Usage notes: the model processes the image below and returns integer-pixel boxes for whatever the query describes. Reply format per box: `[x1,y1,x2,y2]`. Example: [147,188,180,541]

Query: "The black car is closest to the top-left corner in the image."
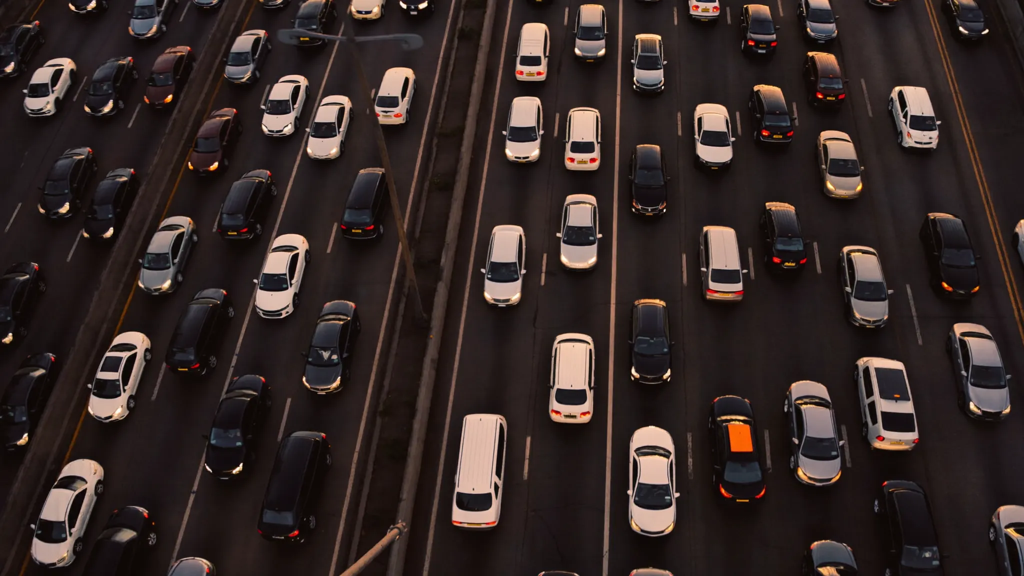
[0,24,39,76]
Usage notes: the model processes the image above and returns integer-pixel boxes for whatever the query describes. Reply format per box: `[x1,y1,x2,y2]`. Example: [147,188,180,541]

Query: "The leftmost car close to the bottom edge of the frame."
[30,460,107,569]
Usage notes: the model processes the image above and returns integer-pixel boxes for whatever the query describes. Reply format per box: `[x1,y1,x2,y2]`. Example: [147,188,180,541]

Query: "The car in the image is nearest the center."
[480,229,527,306]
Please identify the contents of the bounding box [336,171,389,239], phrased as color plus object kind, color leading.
black vehicle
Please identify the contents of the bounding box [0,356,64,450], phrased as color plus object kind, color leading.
black car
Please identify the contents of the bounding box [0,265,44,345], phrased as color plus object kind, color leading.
black car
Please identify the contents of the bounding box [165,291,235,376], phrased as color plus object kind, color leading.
black vehicle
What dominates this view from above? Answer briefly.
paved ground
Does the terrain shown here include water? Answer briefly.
No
